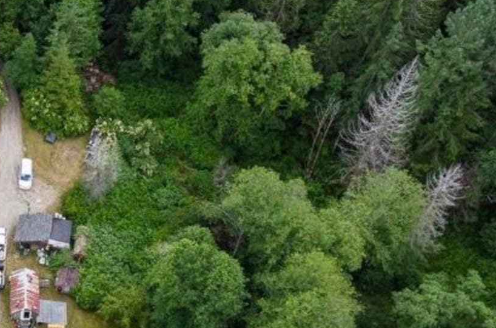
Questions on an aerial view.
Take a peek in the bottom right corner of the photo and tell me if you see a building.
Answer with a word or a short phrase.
No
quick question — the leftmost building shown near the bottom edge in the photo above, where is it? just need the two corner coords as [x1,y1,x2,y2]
[10,268,41,328]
